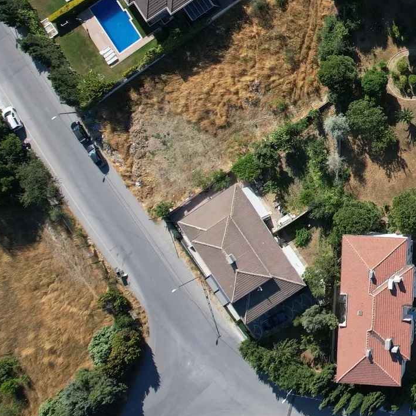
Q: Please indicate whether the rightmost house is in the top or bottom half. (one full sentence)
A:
The bottom half of the photo is where the rightmost house is.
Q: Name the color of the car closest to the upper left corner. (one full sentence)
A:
The car closest to the upper left corner looks white in the image.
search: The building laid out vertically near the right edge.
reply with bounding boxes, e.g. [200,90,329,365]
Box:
[335,230,416,388]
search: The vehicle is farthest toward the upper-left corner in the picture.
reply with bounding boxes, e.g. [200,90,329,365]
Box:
[0,105,22,131]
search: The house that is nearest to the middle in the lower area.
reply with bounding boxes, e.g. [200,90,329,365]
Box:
[177,183,309,324]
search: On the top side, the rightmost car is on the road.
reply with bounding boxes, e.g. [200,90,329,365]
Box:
[85,145,106,170]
